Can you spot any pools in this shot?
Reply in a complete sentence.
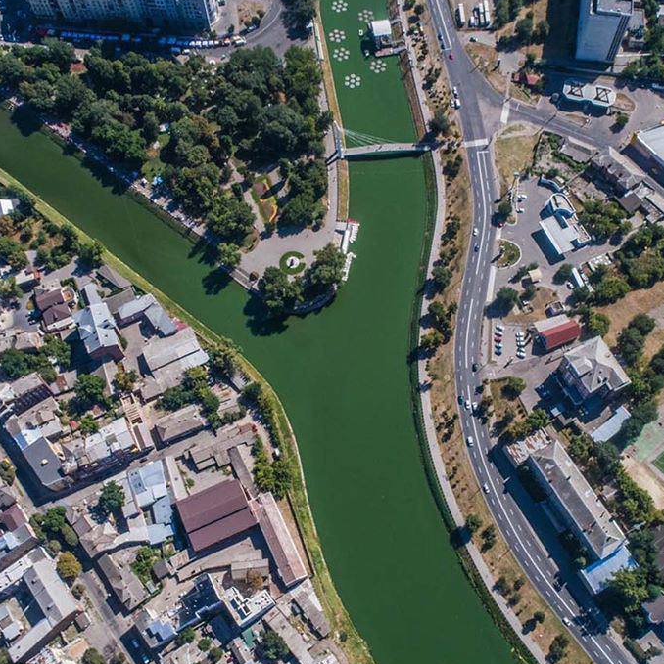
No, there isn't any pool down there.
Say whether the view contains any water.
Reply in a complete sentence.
Yes, water shows up in the scene.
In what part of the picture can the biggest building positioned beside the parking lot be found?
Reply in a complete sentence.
The biggest building positioned beside the parking lot is in the bottom right part of the image.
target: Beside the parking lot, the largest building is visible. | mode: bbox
[526,440,626,563]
